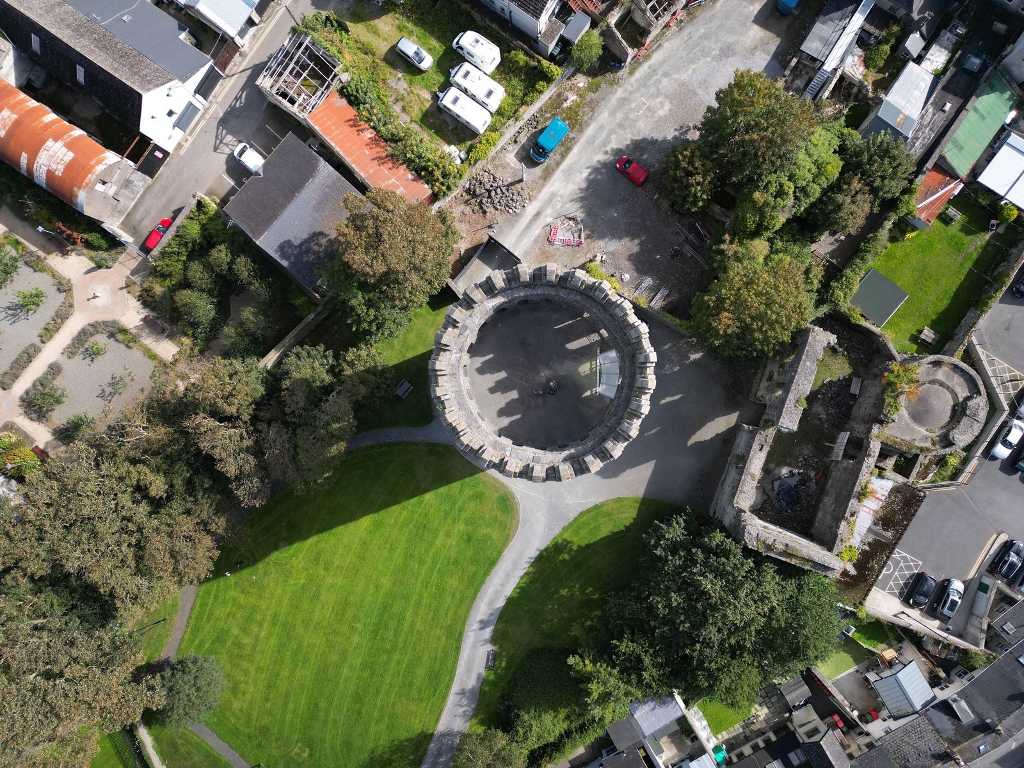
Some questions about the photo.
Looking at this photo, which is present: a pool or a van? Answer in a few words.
van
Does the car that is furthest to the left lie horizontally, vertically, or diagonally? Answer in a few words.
diagonally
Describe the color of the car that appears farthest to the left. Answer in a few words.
red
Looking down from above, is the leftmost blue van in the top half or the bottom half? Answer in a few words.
top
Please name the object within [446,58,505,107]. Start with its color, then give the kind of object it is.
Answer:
white camper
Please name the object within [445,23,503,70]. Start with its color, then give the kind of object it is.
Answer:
white camper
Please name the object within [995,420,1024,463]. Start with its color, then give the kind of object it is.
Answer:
white car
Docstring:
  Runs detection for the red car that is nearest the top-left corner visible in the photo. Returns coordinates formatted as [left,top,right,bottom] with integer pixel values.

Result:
[139,215,172,250]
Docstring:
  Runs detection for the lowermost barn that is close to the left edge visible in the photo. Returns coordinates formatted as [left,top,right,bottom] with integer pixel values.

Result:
[0,80,152,221]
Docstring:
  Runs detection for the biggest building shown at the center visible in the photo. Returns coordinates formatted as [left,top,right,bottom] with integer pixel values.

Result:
[433,260,654,482]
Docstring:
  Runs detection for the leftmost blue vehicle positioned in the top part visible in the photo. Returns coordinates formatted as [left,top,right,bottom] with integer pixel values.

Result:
[531,111,569,162]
